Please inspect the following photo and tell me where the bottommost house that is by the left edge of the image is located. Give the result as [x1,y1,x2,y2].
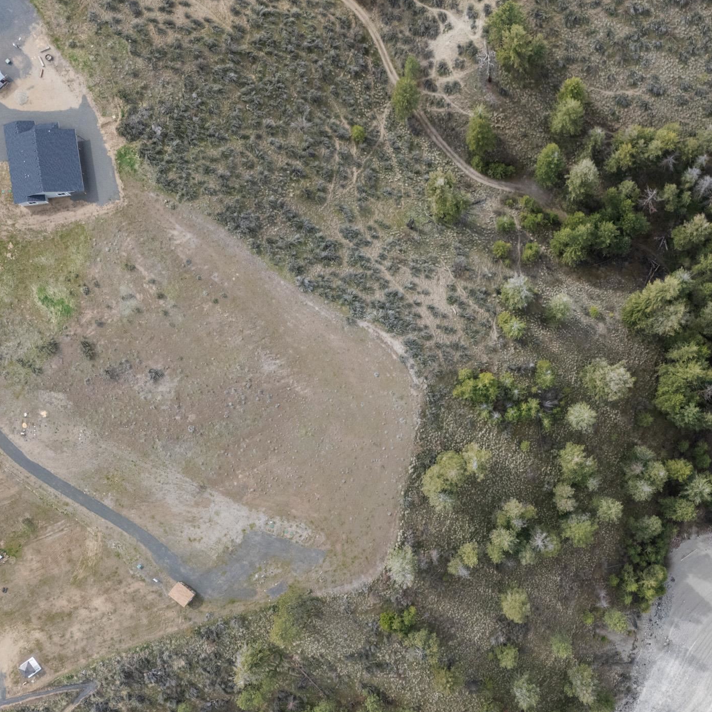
[4,121,90,207]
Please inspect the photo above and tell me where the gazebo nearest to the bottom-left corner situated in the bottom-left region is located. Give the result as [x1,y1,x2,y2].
[19,656,43,677]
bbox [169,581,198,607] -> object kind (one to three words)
shed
